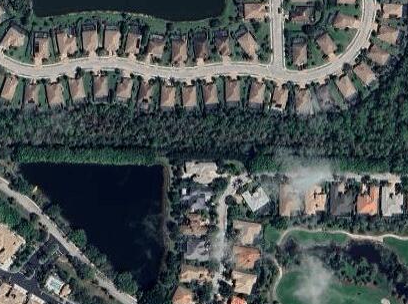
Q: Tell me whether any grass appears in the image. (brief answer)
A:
Yes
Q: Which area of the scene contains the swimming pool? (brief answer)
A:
bottom left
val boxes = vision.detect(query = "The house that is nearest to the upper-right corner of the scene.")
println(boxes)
[383,3,408,18]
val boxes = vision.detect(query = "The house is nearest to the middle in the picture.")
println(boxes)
[186,160,216,185]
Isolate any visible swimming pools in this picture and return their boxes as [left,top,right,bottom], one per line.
[45,276,65,296]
